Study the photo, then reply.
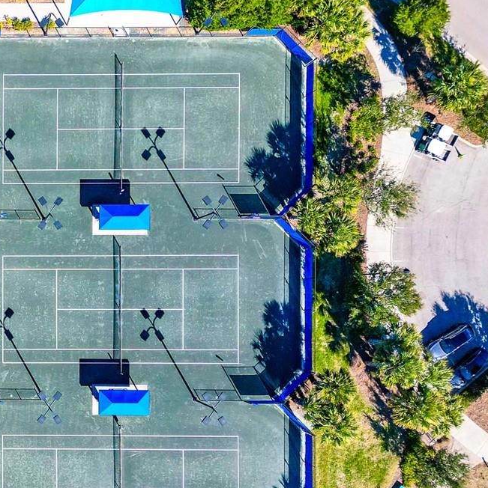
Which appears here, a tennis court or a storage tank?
tennis court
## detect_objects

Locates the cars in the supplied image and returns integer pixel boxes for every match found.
[425,321,477,359]
[451,348,488,390]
